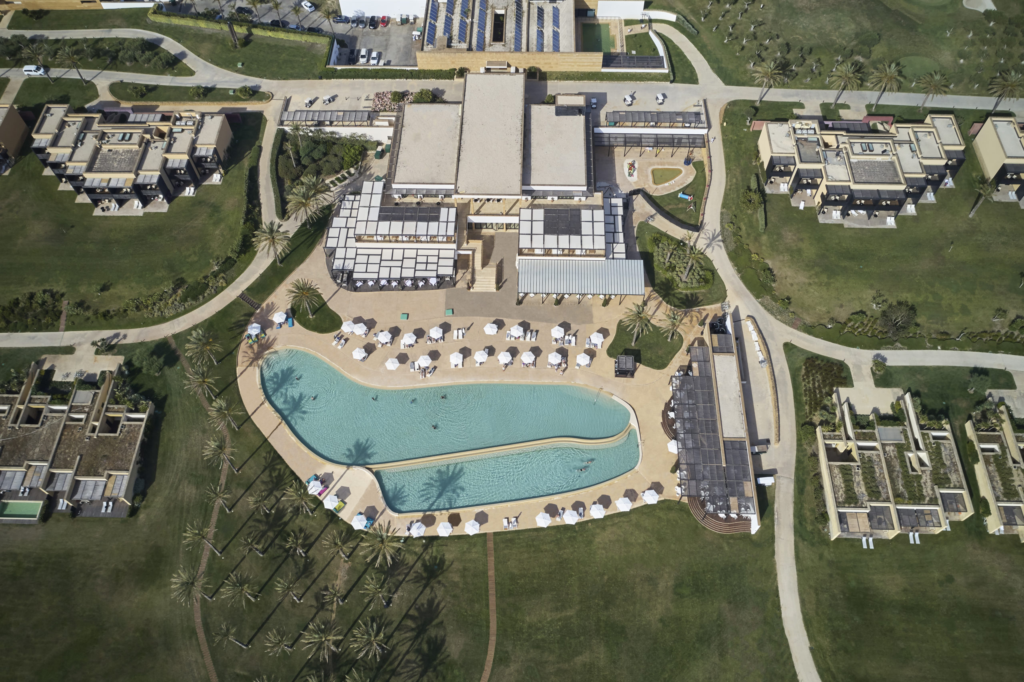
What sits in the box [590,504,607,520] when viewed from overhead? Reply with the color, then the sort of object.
white umbrella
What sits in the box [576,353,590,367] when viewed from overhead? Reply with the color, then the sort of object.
white umbrella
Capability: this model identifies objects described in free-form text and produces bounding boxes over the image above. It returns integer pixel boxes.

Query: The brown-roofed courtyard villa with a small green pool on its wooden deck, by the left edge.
[0,362,68,495]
